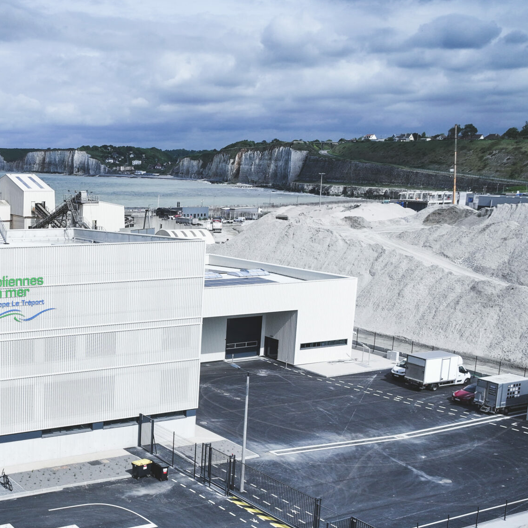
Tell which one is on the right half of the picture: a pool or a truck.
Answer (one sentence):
It is a truck that can be seen on the right half of the picture.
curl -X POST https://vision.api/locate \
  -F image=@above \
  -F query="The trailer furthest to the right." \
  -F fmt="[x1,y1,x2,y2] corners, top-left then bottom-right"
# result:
[471,370,528,412]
